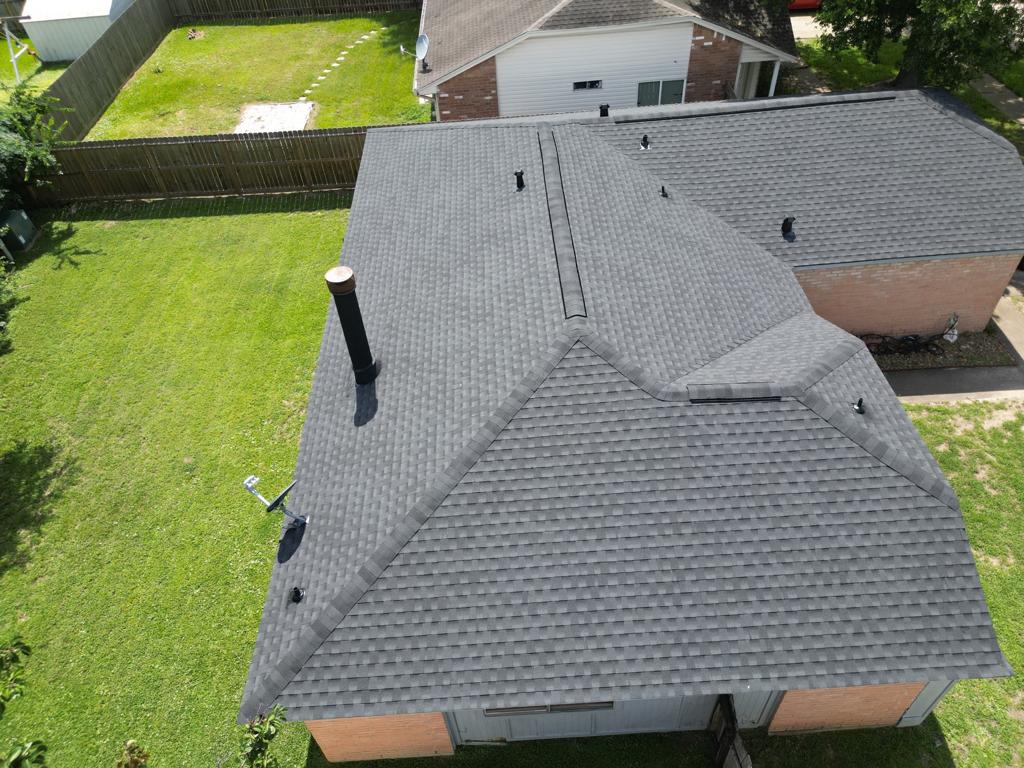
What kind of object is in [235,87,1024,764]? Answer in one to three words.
house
